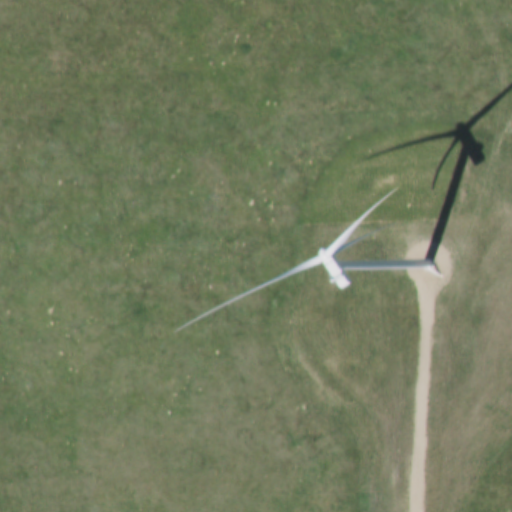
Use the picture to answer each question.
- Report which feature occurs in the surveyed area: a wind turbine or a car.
wind turbine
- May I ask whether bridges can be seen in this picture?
No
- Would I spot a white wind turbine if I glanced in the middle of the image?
Yes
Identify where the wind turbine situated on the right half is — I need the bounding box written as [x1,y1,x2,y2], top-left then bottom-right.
[176,188,444,330]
